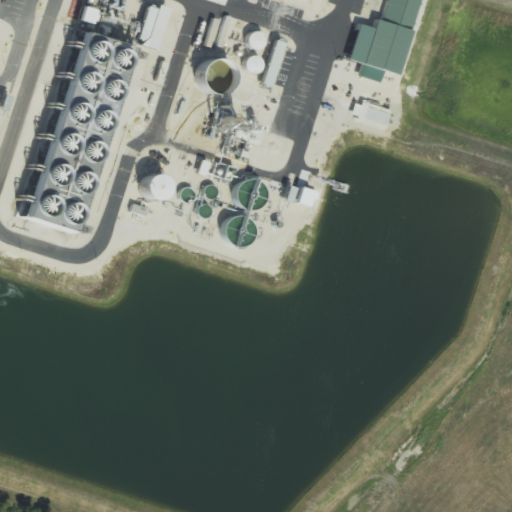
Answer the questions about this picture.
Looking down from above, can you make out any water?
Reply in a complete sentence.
Yes, some water is visible.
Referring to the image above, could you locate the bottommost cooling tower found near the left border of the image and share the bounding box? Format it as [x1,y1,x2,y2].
[17,31,138,230]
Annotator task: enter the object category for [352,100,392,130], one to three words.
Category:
building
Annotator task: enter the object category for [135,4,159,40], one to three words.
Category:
shed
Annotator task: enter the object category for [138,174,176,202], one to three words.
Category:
storage tank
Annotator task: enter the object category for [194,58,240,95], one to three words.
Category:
storage tank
